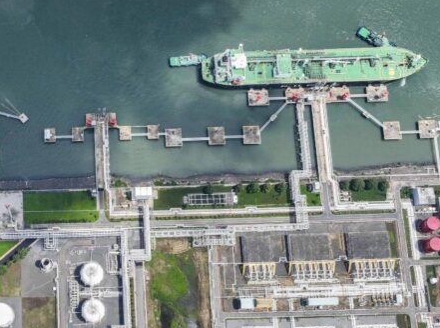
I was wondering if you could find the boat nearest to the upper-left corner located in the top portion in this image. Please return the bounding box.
[169,55,203,69]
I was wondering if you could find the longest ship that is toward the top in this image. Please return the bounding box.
[201,44,429,88]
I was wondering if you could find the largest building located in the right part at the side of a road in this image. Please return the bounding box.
[413,187,437,206]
